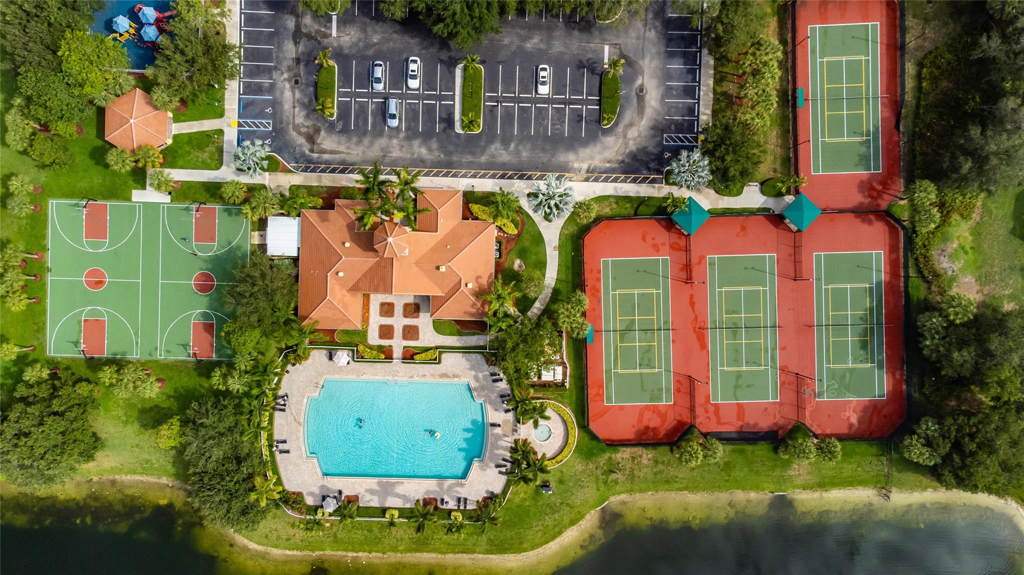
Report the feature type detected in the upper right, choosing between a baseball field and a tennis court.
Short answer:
tennis court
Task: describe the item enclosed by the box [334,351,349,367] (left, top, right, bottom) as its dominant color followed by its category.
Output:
white umbrella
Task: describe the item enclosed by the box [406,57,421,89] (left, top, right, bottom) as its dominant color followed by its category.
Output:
white car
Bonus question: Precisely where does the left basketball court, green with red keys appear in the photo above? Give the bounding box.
[46,199,151,359]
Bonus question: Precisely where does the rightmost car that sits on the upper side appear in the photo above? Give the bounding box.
[537,65,550,95]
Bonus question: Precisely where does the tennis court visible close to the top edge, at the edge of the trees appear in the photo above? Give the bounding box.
[789,0,901,211]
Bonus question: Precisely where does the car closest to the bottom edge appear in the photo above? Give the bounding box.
[385,96,399,128]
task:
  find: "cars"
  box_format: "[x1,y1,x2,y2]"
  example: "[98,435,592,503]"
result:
[406,57,421,89]
[385,96,399,128]
[537,65,550,95]
[371,60,385,91]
